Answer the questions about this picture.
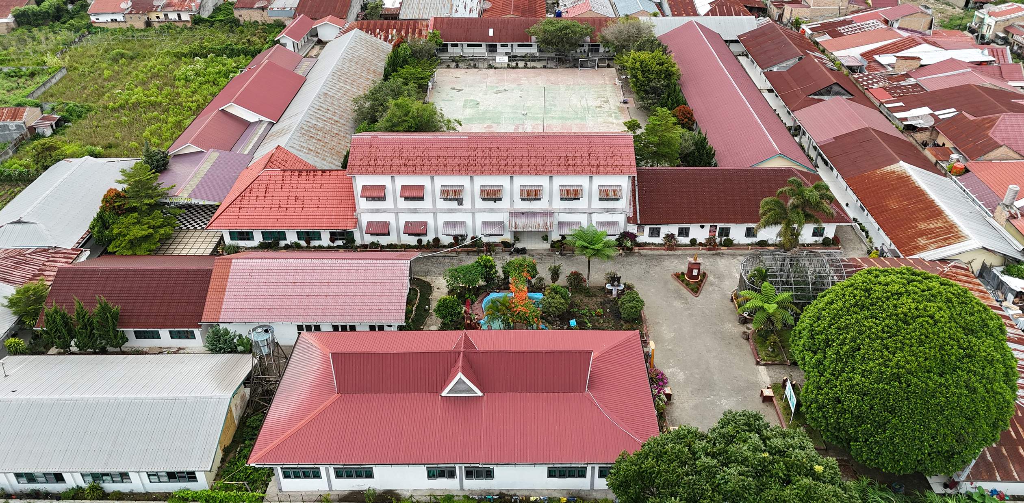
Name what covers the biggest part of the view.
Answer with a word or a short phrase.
buildings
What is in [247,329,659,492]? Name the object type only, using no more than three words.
building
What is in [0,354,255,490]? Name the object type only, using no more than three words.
building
